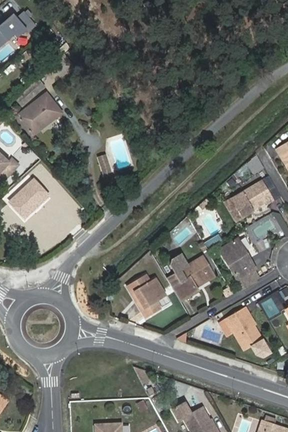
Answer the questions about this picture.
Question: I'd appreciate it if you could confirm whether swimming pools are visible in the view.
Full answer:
Yes, a swimming pool is visible in the scene.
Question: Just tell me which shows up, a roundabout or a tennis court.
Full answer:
The image shows a roundabout.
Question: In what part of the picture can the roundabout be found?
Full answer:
The roundabout sits in the bottom left section of the image.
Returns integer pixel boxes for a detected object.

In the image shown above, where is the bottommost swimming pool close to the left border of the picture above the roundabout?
[0,123,38,174]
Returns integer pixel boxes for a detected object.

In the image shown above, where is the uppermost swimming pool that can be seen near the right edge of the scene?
[246,214,283,253]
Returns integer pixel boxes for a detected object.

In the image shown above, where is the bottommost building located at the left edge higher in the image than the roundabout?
[8,178,48,219]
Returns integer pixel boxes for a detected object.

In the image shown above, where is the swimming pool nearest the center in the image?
[169,217,195,248]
